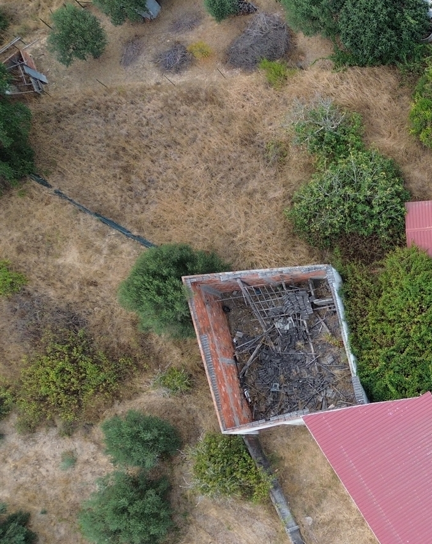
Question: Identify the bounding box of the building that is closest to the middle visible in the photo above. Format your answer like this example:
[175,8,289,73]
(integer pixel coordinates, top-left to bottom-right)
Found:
[183,266,377,434]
